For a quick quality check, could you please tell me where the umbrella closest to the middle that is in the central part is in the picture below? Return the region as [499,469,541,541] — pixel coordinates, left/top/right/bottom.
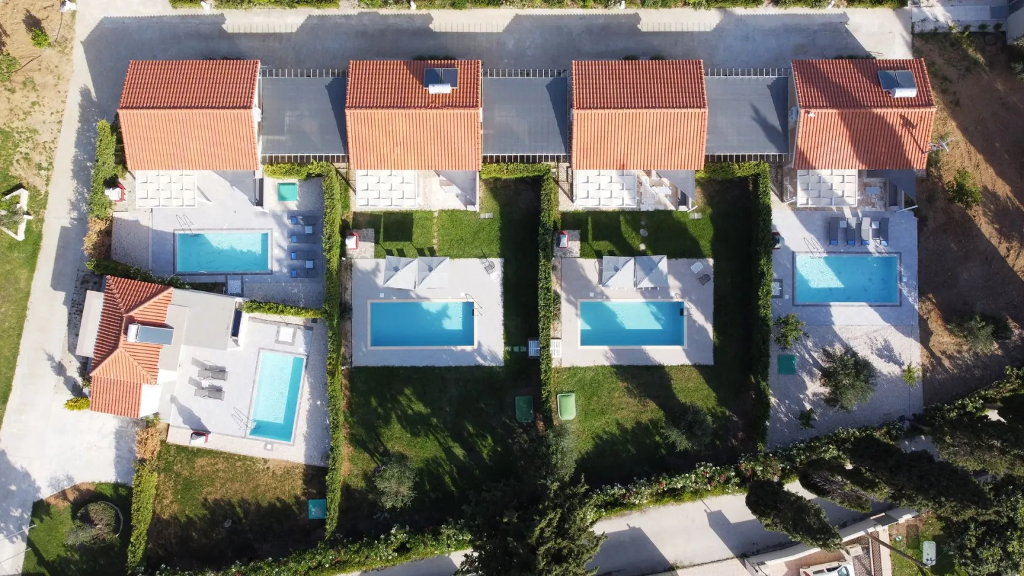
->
[416,256,450,290]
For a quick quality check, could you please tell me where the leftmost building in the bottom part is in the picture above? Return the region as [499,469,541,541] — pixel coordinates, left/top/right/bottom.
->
[76,275,261,418]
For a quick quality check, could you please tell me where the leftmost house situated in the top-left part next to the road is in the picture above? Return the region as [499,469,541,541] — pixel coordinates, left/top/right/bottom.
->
[116,59,273,171]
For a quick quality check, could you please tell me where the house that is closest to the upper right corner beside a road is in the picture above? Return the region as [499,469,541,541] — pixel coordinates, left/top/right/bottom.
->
[780,59,938,171]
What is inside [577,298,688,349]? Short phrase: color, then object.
blue swimming pool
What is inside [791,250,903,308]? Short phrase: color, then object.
blue swimming pool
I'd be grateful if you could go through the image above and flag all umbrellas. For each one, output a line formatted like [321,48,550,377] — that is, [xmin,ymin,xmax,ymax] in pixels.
[601,255,635,289]
[416,256,450,290]
[635,254,669,288]
[383,255,417,290]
